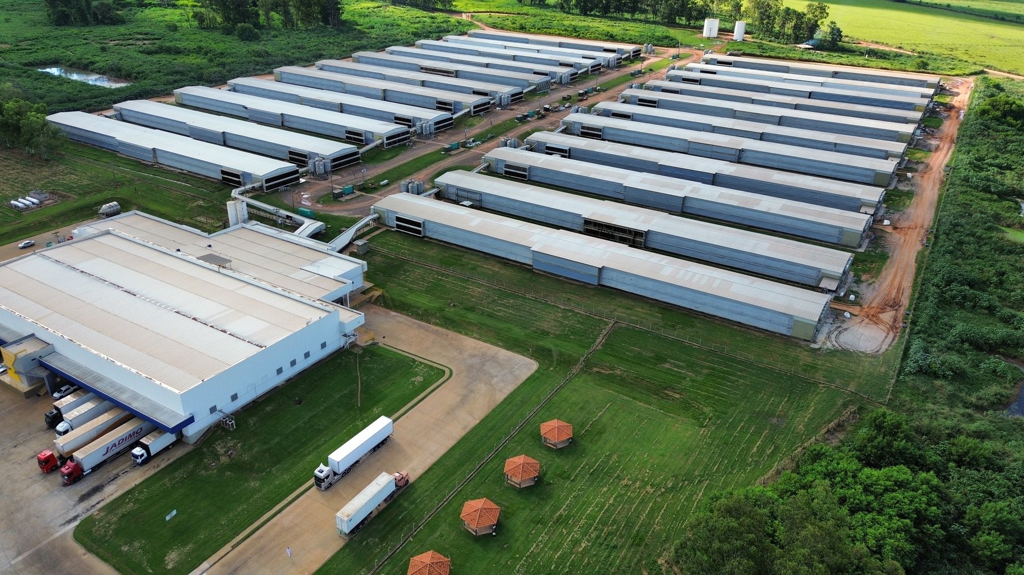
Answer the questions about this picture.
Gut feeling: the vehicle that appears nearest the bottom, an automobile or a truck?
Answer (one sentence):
Specifically, the vehicle that appears nearest the bottom is a truck.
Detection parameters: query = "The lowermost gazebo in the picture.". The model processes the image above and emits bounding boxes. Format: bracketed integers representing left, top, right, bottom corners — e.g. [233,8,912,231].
[407,549,450,575]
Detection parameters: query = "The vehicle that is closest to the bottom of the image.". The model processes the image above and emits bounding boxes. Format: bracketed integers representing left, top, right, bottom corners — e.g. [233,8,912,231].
[335,464,413,534]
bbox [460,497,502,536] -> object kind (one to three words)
gazebo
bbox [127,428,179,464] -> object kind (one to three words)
truck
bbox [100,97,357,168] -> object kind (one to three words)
barn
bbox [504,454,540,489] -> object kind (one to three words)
gazebo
